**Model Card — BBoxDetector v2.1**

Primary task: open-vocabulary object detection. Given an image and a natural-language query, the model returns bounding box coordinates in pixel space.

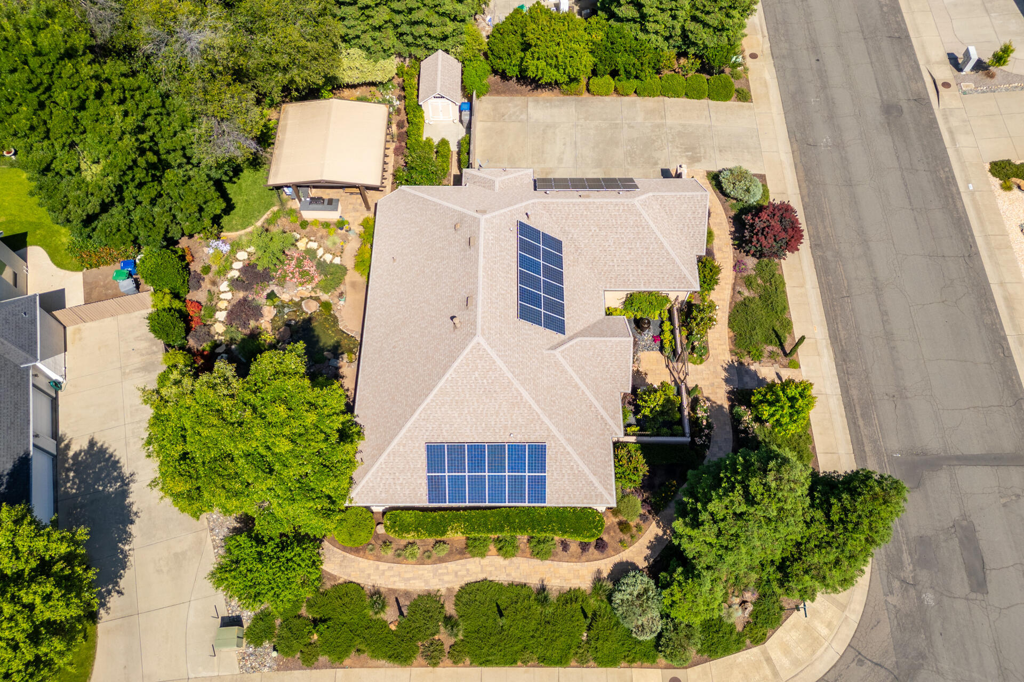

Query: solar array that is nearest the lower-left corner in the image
[425,444,547,504]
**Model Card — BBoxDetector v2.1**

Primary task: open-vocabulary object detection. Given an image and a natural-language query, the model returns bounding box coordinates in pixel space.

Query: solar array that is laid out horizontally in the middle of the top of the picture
[536,177,640,190]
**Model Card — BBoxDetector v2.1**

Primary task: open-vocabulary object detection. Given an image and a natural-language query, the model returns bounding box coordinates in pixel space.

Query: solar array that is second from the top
[517,220,566,335]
